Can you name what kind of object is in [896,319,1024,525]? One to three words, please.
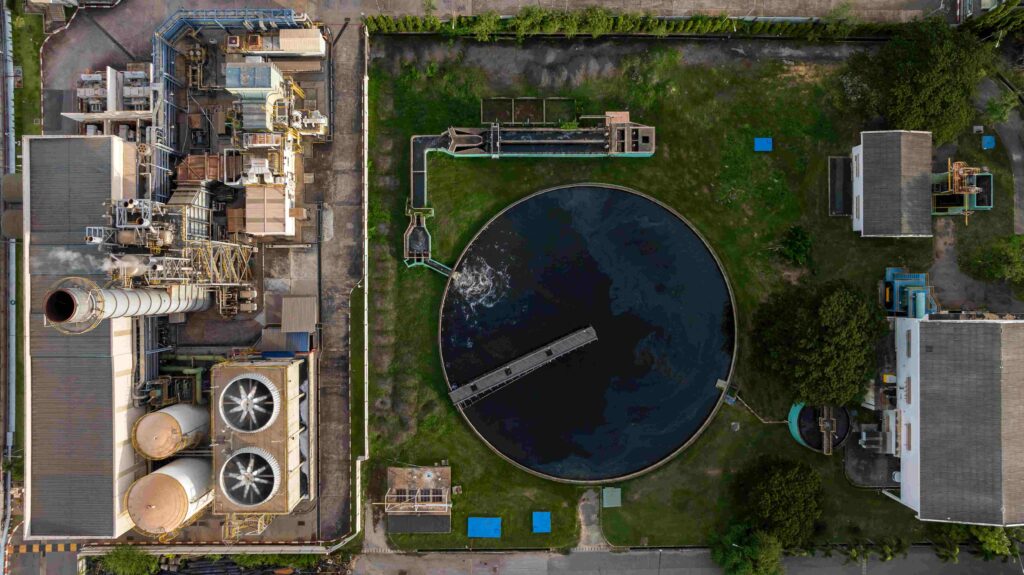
building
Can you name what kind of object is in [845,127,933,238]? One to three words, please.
building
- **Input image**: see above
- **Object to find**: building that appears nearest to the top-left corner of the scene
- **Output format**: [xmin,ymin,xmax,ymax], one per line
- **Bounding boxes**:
[24,0,89,36]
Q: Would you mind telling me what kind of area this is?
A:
industrial area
